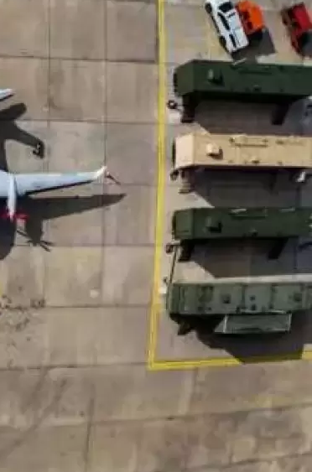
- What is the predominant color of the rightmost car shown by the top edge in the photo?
red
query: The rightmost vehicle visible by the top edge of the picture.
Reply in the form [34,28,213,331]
[281,2,312,61]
